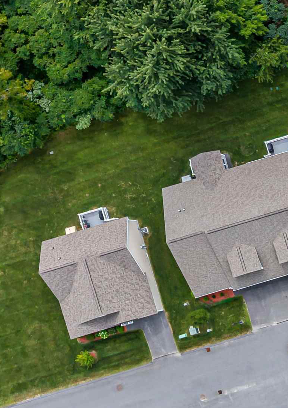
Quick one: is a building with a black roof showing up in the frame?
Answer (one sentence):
No, this view has no building with a black roof in it.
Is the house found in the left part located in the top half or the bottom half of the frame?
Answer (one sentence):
You can find the house found in the left part in the bottom half.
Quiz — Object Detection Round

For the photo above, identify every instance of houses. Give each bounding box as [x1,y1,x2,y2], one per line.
[38,208,160,339]
[164,135,288,298]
